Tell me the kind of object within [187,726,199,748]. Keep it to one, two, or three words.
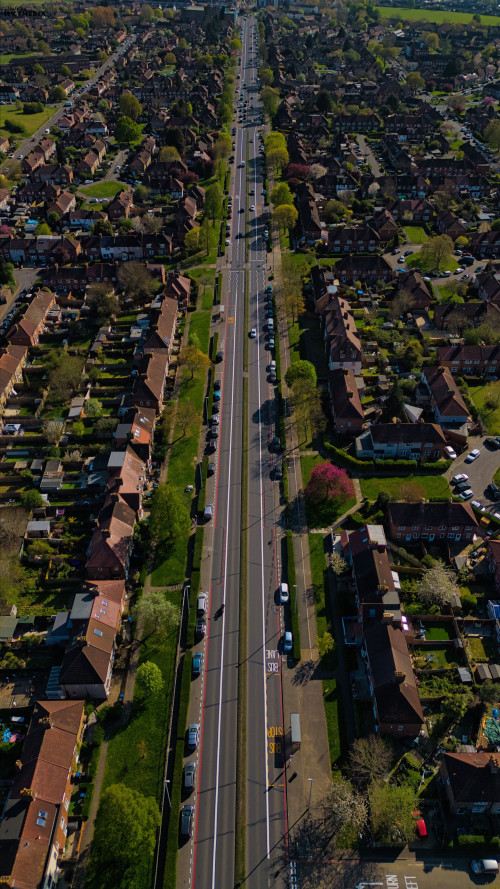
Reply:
vehicle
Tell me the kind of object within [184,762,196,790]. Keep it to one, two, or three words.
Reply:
vehicle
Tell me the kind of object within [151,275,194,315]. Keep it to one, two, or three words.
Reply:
house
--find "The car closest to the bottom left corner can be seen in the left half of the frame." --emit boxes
[181,808,194,835]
